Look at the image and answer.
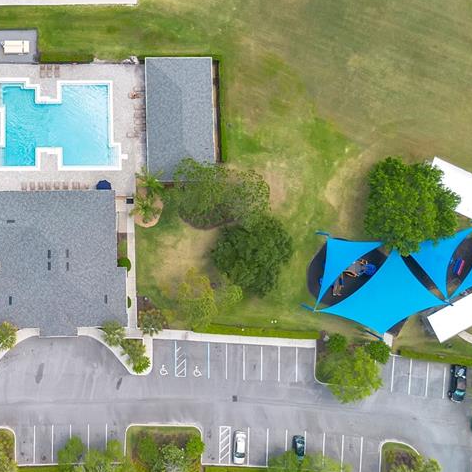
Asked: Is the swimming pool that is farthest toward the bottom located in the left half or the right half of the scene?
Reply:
left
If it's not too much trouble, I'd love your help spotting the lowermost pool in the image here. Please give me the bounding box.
[0,78,127,171]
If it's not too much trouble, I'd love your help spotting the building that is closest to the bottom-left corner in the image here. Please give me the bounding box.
[0,191,127,337]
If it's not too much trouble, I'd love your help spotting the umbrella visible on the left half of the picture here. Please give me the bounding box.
[96,178,111,191]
